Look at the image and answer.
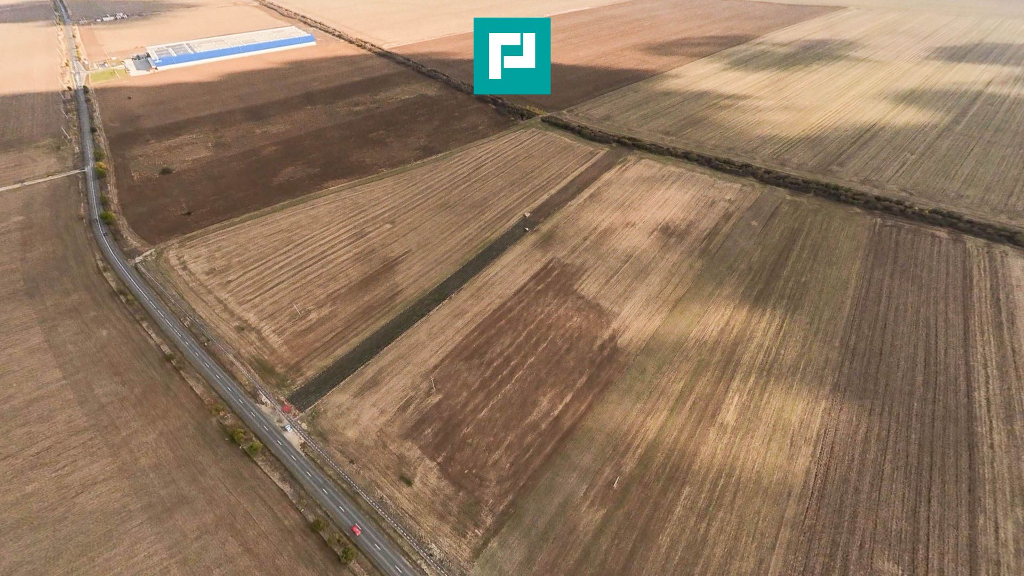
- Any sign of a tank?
No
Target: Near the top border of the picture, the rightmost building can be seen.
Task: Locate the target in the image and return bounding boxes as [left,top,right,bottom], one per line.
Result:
[149,25,315,70]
